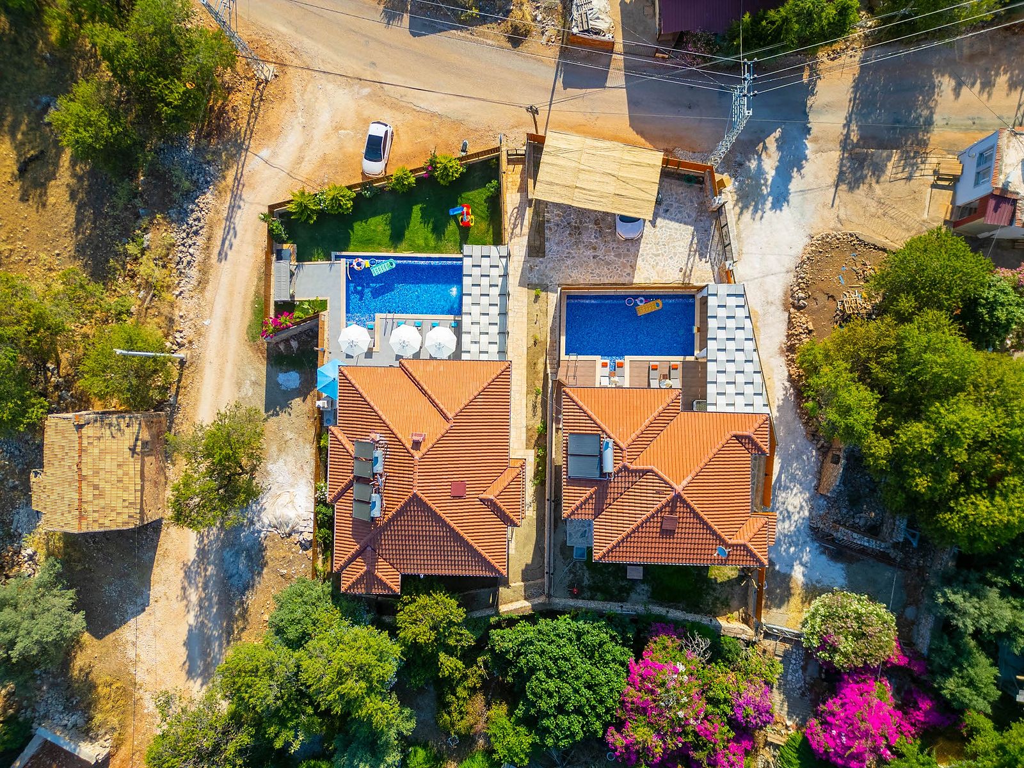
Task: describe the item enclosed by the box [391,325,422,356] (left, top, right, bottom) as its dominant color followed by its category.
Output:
white umbrella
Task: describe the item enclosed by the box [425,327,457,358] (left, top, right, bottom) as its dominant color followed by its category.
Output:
white umbrella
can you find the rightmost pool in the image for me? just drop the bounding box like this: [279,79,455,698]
[561,291,700,387]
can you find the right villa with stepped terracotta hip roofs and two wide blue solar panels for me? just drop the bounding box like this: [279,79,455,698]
[560,387,778,568]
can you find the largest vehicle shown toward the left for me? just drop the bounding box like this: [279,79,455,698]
[357,118,390,179]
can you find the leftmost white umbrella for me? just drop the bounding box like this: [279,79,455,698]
[341,324,372,355]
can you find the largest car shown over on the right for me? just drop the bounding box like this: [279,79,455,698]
[617,214,646,240]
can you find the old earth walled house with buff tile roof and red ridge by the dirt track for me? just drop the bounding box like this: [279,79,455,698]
[29,415,167,534]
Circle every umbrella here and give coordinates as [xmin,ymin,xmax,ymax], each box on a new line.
[318,359,346,400]
[391,325,422,356]
[425,327,457,358]
[341,324,372,355]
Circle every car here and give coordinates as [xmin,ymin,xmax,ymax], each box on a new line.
[617,214,646,240]
[357,118,390,179]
